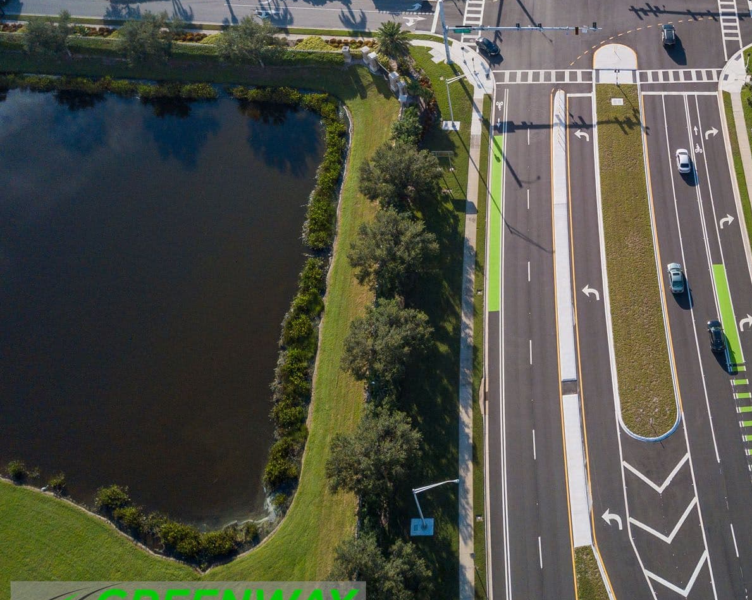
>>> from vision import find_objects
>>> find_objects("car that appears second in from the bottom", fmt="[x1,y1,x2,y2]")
[667,264,686,296]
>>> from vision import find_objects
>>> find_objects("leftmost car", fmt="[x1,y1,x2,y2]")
[473,33,499,57]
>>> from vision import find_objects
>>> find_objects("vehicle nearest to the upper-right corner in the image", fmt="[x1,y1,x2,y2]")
[662,26,676,49]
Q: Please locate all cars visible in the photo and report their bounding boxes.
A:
[473,33,499,57]
[707,323,727,358]
[676,149,693,175]
[667,264,686,296]
[662,26,676,49]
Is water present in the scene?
Yes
